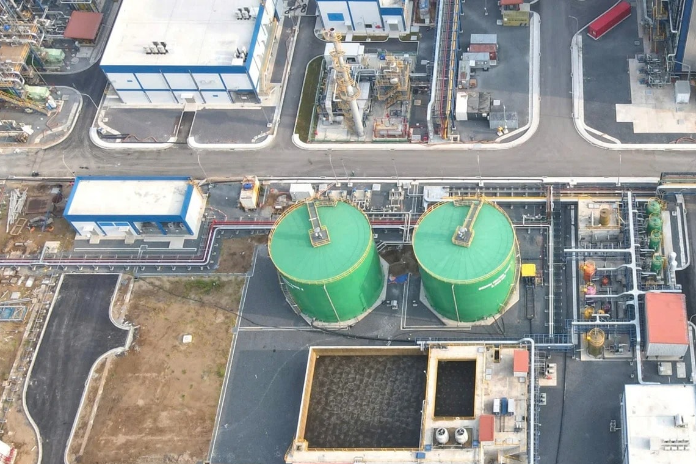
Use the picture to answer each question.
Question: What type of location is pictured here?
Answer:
industrial area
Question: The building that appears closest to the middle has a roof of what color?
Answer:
white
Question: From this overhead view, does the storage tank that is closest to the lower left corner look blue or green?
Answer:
green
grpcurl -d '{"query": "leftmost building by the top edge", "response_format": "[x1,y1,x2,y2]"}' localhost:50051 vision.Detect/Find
[101,0,284,107]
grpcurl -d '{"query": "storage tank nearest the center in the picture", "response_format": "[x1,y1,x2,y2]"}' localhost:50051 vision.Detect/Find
[264,192,390,327]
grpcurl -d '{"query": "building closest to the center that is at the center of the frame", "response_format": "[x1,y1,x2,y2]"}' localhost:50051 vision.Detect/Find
[293,184,321,205]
